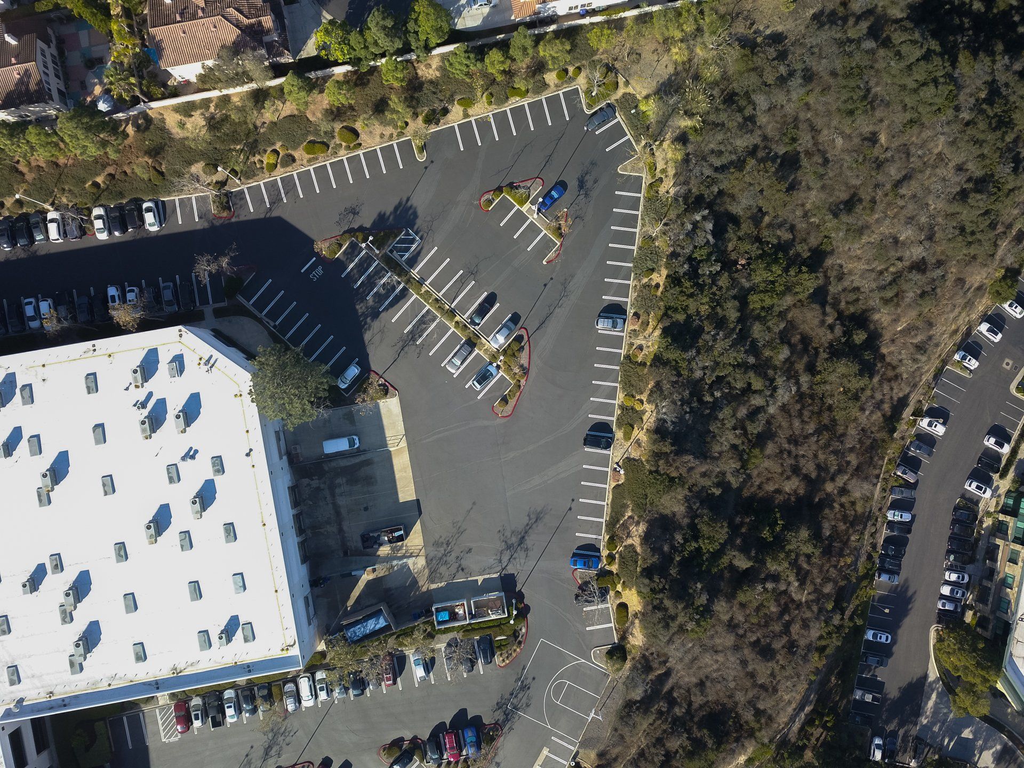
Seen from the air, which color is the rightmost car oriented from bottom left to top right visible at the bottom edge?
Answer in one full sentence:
The rightmost car oriented from bottom left to top right visible at the bottom edge is black.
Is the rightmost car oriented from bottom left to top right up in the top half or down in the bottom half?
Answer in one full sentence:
The rightmost car oriented from bottom left to top right is in the top half of the image.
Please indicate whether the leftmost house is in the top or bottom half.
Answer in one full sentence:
You can find the leftmost house in the top half.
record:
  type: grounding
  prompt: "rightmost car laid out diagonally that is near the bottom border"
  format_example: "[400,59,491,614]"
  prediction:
[389,745,416,768]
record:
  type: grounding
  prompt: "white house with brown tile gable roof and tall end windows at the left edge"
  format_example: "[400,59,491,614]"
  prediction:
[0,11,66,124]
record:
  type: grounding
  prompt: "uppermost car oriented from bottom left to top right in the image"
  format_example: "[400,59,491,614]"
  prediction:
[586,104,616,129]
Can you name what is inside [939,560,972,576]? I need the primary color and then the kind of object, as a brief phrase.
black vehicle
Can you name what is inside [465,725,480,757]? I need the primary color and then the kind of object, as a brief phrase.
blue car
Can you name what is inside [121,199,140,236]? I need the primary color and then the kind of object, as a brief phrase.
black vehicle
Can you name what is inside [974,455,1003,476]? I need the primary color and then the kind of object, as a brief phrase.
black car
